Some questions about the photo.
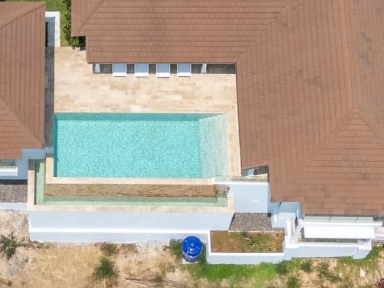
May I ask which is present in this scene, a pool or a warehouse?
pool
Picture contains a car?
No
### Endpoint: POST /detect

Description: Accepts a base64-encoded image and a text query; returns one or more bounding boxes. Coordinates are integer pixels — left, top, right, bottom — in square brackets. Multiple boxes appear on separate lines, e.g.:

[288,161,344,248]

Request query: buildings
[0,0,46,186]
[69,0,384,269]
